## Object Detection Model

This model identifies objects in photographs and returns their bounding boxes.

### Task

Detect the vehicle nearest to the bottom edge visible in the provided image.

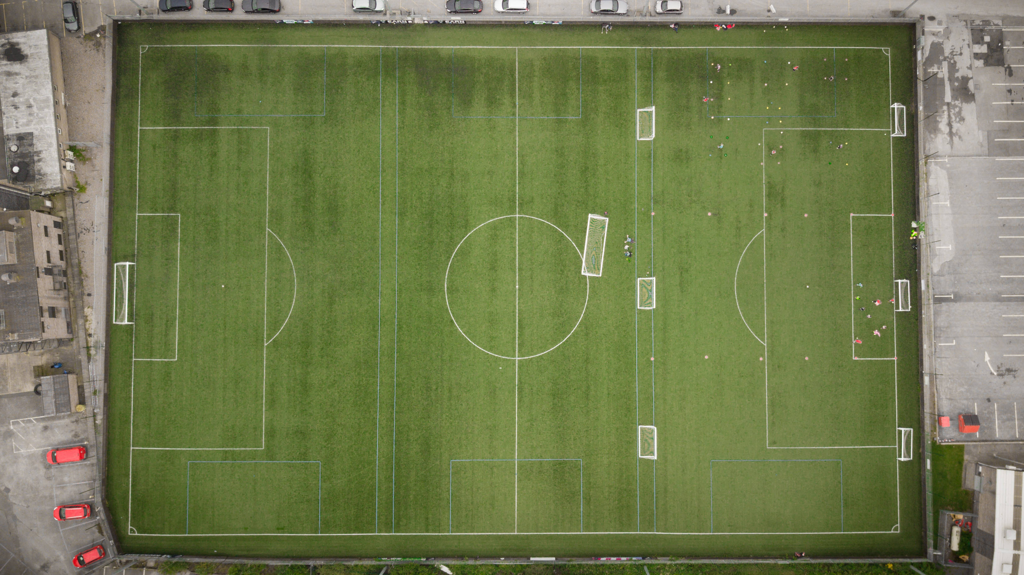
[72,544,106,569]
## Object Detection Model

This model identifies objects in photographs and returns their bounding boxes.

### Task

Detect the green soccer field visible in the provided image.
[106,23,923,557]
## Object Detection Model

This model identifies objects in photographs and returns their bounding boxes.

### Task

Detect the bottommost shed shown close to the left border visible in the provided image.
[41,373,79,416]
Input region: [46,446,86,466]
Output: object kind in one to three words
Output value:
vehicle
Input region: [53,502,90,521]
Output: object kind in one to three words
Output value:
car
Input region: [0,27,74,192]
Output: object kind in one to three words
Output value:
building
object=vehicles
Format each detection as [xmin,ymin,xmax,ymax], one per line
[63,0,82,34]
[202,0,233,13]
[157,0,192,13]
[48,362,66,369]
[591,0,628,14]
[46,446,86,466]
[72,544,106,569]
[445,0,482,13]
[351,0,384,13]
[241,0,280,13]
[494,0,530,13]
[655,0,685,14]
[53,502,90,521]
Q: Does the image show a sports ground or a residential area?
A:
sports ground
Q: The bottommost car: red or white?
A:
red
